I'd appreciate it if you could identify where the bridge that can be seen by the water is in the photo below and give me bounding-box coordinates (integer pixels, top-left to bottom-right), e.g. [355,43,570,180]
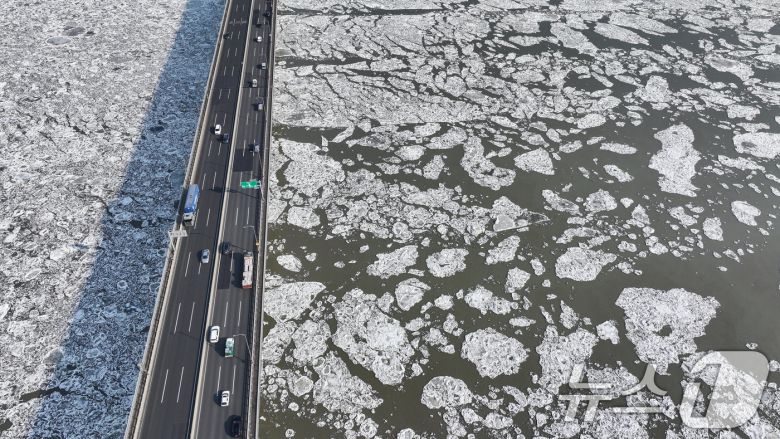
[122,0,277,439]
